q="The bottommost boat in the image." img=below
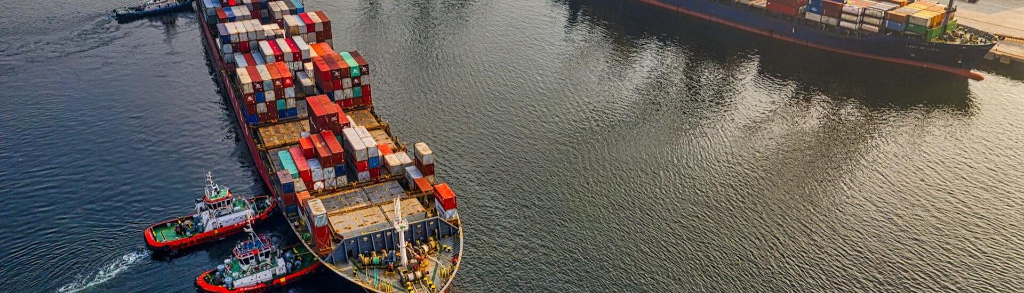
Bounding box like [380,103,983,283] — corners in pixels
[190,216,339,293]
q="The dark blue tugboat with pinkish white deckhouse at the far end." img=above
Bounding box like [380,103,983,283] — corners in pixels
[114,0,193,20]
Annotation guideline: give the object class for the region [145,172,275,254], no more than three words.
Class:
boat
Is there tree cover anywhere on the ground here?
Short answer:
No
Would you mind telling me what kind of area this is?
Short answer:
port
